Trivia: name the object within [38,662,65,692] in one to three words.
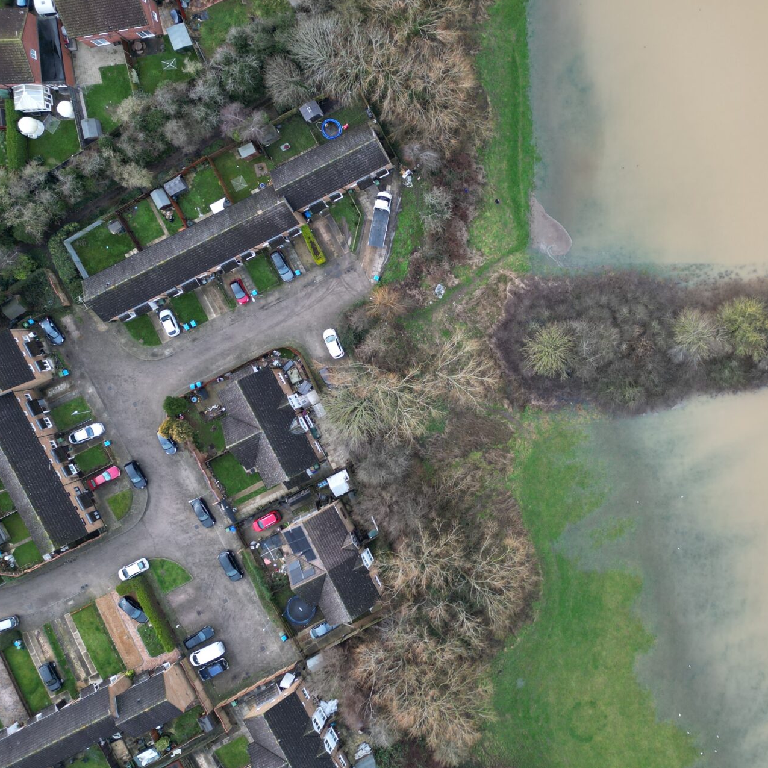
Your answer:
car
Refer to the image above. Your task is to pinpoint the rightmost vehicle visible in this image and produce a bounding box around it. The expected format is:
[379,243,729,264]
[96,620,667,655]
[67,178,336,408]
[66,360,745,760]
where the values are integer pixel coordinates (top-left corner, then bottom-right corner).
[368,192,392,248]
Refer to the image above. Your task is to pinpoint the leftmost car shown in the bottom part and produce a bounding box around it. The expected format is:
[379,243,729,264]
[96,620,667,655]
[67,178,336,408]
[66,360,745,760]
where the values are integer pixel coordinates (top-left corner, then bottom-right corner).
[0,613,22,633]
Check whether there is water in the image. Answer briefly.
Yes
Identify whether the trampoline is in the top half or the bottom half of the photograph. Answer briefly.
bottom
